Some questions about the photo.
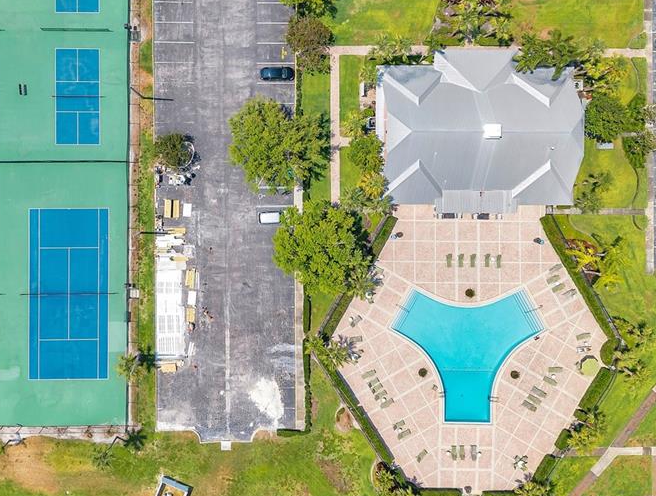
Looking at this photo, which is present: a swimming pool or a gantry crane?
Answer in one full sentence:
The image shows a swimming pool.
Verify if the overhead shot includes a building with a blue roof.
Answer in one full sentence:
No, no building with a blue roof is visible in the view.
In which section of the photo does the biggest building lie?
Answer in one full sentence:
The biggest building appears toward the top right of the photo.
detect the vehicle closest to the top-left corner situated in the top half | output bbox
[261,64,295,81]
